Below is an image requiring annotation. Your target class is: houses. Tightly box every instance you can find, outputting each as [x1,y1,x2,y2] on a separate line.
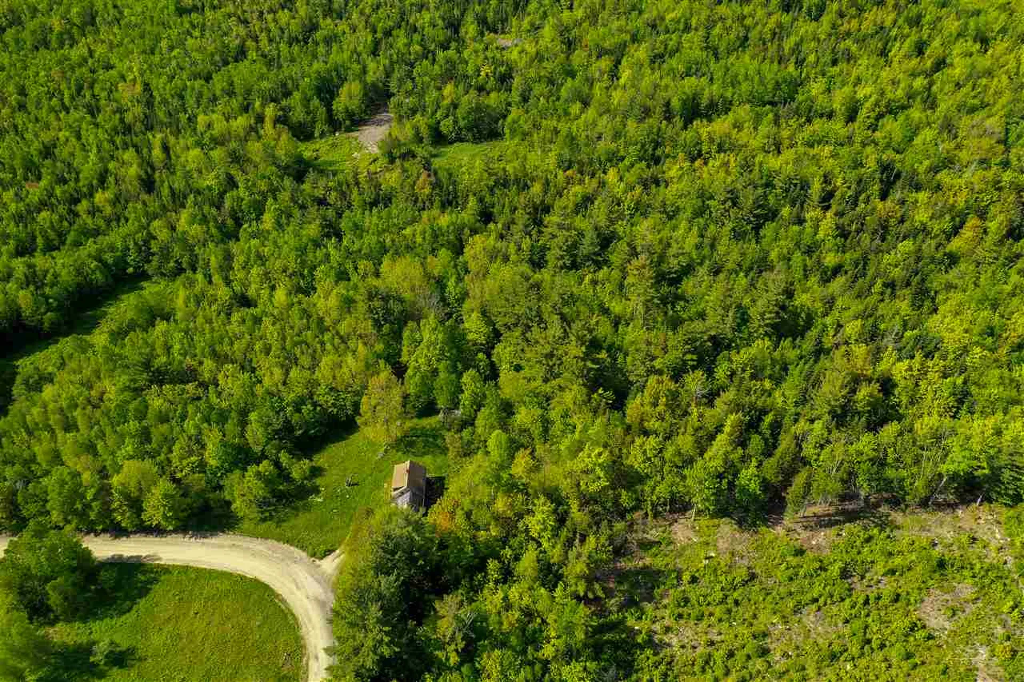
[391,460,427,519]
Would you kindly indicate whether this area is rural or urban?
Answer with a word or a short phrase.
rural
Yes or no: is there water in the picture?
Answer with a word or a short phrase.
No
